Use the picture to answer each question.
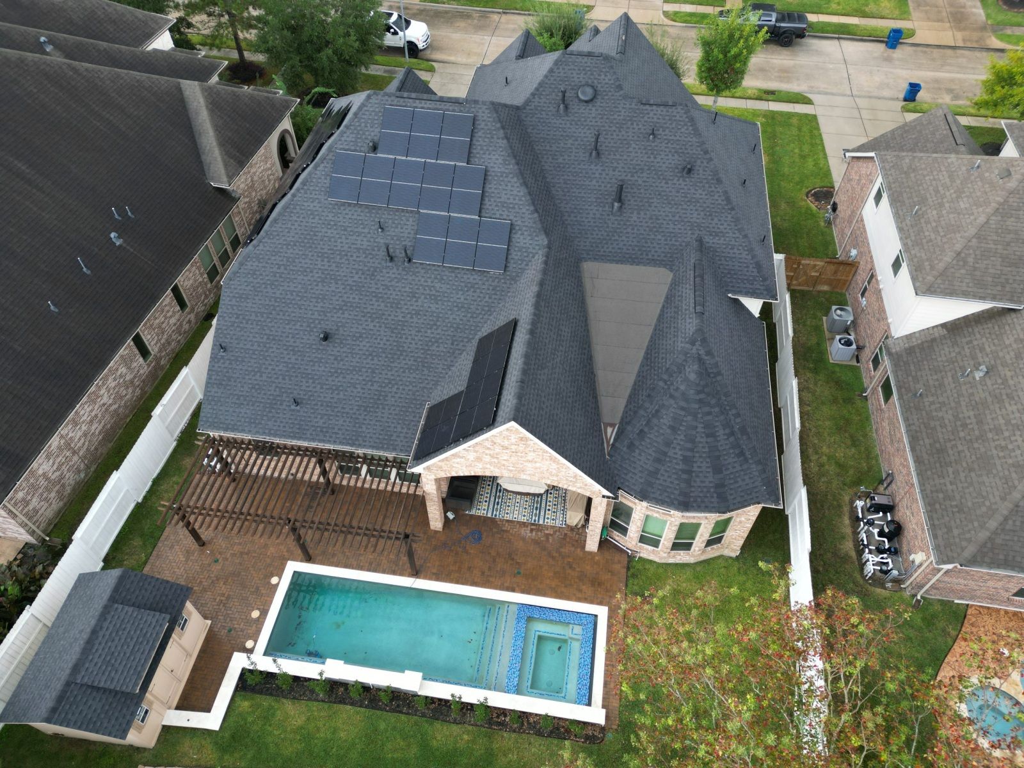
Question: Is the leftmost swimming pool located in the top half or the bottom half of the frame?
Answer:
bottom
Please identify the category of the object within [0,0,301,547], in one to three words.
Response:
house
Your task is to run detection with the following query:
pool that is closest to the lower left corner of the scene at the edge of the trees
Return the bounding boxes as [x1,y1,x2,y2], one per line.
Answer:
[159,560,609,731]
